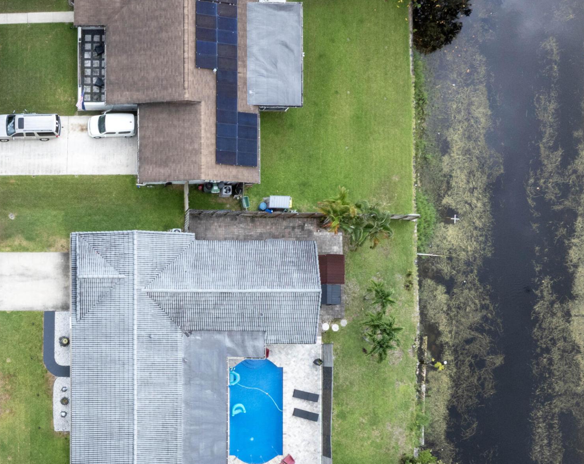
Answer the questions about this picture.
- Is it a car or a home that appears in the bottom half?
home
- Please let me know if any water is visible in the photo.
Yes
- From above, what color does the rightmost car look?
white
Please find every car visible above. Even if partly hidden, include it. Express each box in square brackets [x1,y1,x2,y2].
[86,111,136,140]
[0,110,61,143]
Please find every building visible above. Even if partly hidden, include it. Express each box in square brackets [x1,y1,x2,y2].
[70,229,322,464]
[266,194,297,213]
[74,0,304,185]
